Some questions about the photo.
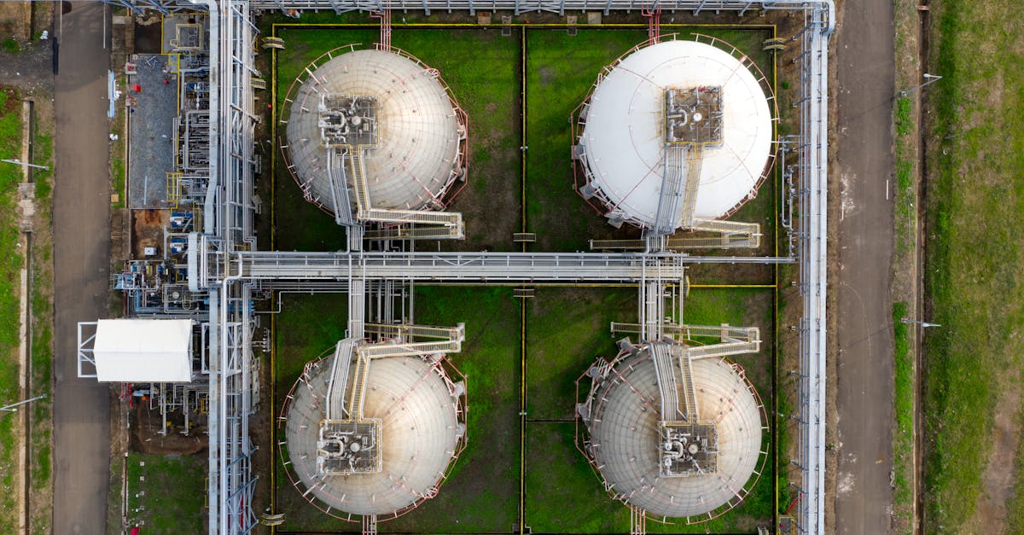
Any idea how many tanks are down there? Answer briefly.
4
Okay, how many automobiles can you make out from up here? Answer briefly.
0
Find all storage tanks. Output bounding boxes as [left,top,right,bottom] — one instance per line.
[566,31,783,242]
[570,327,772,527]
[276,40,473,236]
[276,324,473,525]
